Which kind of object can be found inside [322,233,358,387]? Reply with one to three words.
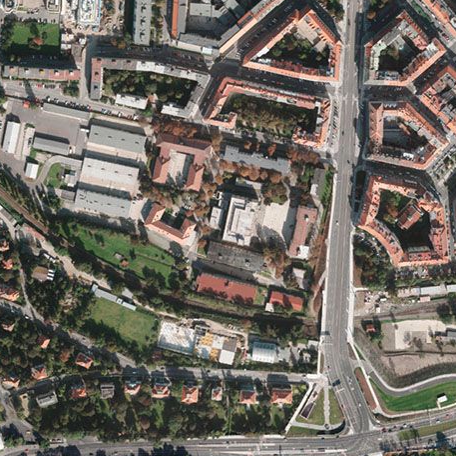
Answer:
overpass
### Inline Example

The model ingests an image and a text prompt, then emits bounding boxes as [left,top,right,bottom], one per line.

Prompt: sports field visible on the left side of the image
[94,301,154,343]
